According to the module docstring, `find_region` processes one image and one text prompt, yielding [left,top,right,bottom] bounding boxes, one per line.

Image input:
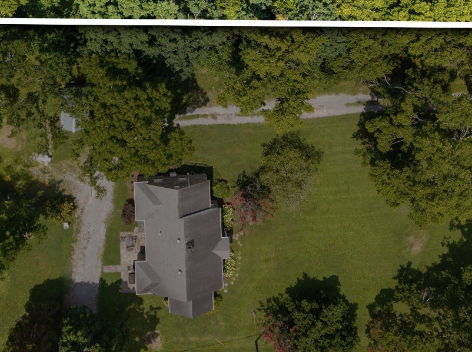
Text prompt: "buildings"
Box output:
[60,95,84,131]
[134,171,231,318]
